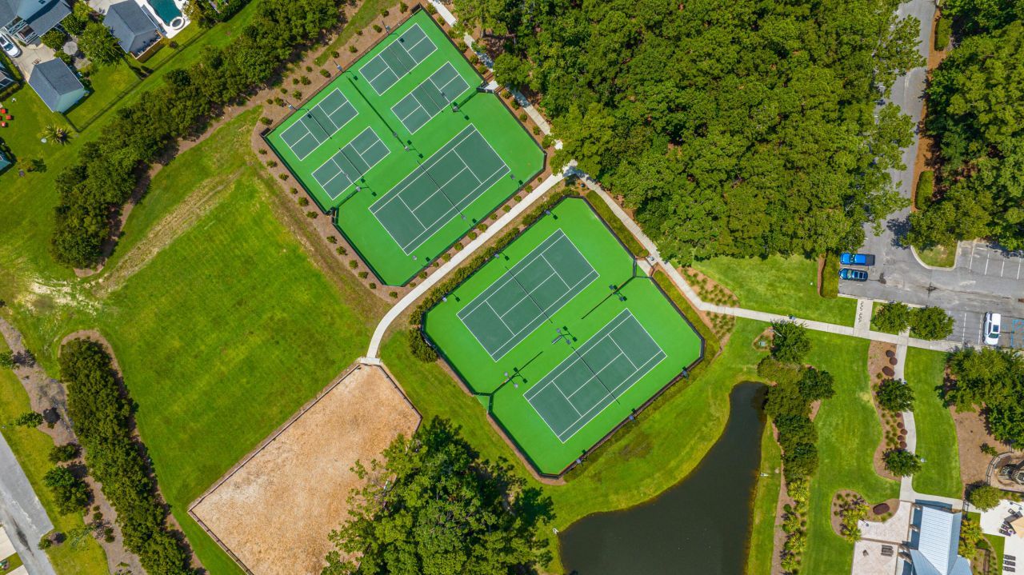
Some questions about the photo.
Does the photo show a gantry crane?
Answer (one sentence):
No, there's no gantry crane here.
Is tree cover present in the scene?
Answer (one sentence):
Yes, the picture does contain tree cover.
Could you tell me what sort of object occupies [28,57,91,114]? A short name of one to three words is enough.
building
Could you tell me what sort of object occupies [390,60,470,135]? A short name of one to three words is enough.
sports court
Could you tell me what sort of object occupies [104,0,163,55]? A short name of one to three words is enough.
building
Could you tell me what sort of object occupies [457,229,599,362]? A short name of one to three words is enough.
tennis court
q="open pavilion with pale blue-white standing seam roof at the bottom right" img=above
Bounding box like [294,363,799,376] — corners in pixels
[895,503,970,575]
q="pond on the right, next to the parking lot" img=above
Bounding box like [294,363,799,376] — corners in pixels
[558,381,768,575]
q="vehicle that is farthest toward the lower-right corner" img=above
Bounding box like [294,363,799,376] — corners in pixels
[983,313,1001,343]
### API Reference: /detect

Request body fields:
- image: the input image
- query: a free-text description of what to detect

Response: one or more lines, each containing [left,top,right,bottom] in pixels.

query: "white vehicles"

[0,29,19,57]
[983,313,1001,343]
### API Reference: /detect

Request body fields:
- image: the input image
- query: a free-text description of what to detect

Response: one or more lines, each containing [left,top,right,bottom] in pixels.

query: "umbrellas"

[65,42,80,56]
[1011,517,1024,540]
